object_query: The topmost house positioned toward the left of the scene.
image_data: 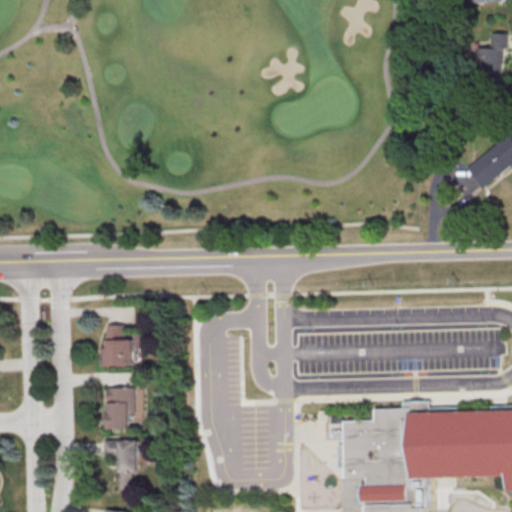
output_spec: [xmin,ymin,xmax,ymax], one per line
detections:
[102,325,142,366]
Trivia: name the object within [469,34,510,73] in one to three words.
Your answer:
house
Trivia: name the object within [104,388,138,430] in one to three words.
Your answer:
house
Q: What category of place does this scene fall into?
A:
golf course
